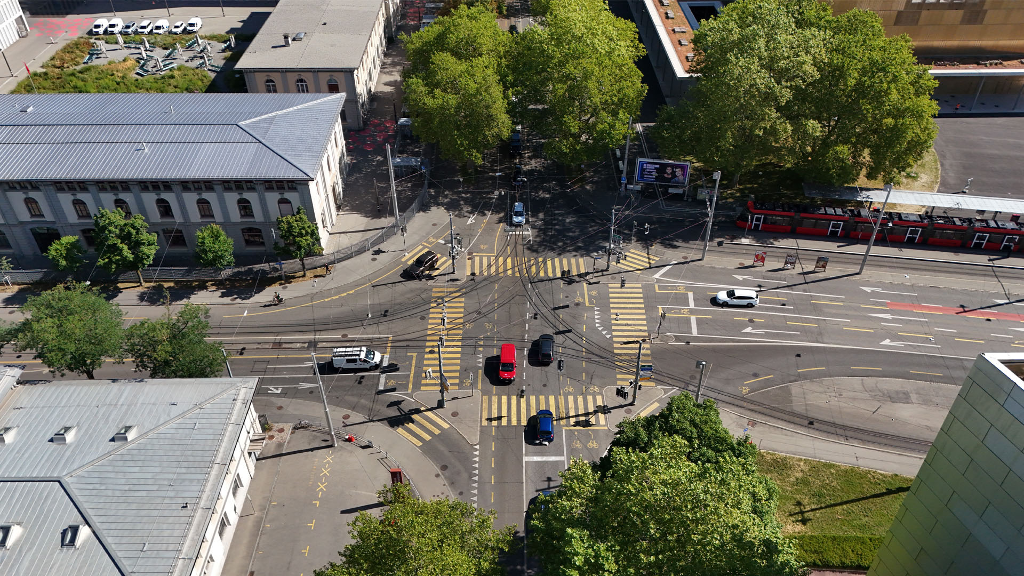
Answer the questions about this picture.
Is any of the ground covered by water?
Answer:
No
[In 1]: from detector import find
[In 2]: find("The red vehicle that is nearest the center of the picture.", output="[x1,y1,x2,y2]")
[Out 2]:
[497,339,519,383]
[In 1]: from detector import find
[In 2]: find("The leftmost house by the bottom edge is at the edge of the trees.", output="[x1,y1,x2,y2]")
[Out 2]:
[0,380,262,576]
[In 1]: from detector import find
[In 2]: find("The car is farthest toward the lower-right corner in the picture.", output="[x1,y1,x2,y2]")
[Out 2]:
[717,290,761,310]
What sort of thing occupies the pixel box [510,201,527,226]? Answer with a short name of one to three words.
car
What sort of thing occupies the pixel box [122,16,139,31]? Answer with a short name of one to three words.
car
